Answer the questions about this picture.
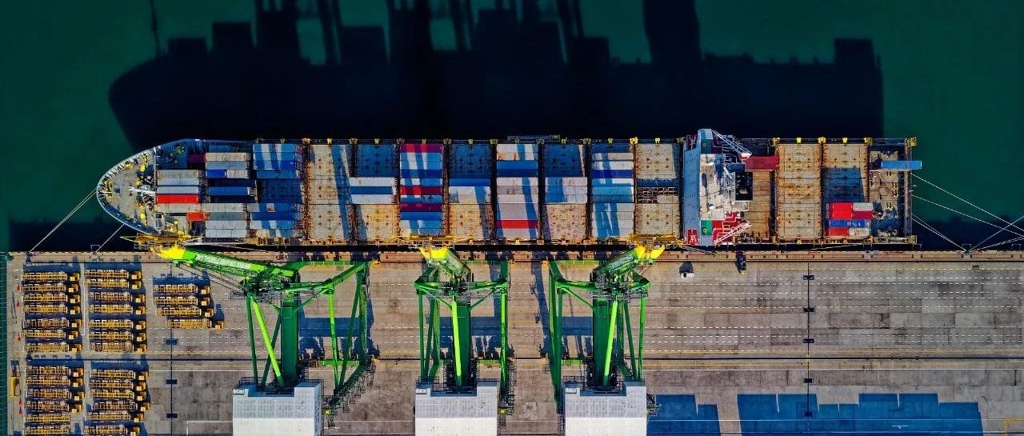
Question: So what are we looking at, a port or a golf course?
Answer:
port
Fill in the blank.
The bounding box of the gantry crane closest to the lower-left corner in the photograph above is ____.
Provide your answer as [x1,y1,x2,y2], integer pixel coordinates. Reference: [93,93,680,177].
[121,230,379,436]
